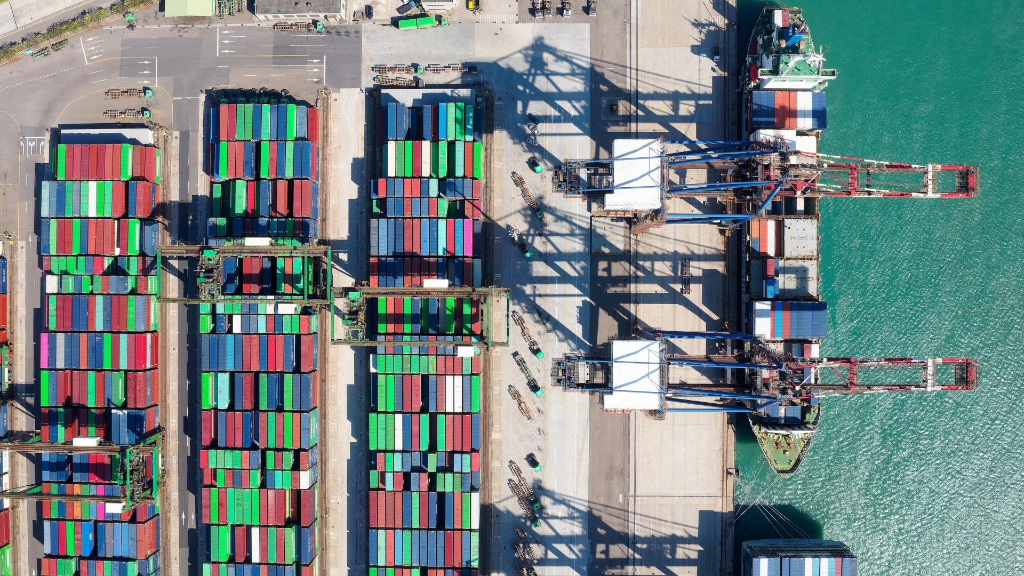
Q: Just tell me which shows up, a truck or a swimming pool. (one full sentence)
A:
The one in the frame is a truck.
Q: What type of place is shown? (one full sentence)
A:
The area seen from above is a port.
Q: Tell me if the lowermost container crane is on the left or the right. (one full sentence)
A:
The lowermost container crane is on the left side of the image.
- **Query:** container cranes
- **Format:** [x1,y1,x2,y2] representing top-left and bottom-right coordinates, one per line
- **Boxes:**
[552,318,981,422]
[552,135,981,241]
[157,236,327,314]
[0,424,161,512]
[332,277,509,356]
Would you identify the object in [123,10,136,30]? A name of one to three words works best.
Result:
vehicle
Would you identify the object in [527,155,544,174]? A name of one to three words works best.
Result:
work vehicle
